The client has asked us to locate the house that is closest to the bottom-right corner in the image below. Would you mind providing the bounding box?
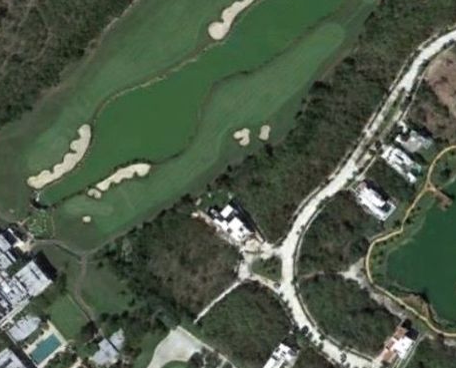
[382,328,421,368]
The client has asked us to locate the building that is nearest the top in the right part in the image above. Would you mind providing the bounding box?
[394,130,431,156]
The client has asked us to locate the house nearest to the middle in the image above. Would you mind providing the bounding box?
[210,203,260,249]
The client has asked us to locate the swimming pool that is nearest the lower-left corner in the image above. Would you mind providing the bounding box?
[25,320,66,368]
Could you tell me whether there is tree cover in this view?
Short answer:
Yes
